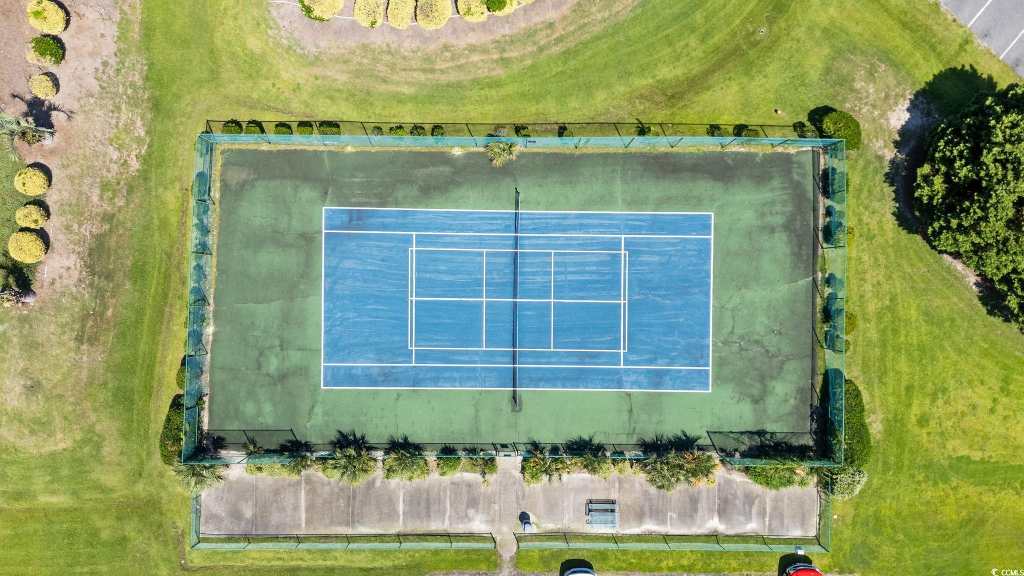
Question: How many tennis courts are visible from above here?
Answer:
1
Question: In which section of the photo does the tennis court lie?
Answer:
center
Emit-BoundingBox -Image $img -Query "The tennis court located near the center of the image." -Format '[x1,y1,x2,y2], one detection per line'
[206,148,819,453]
